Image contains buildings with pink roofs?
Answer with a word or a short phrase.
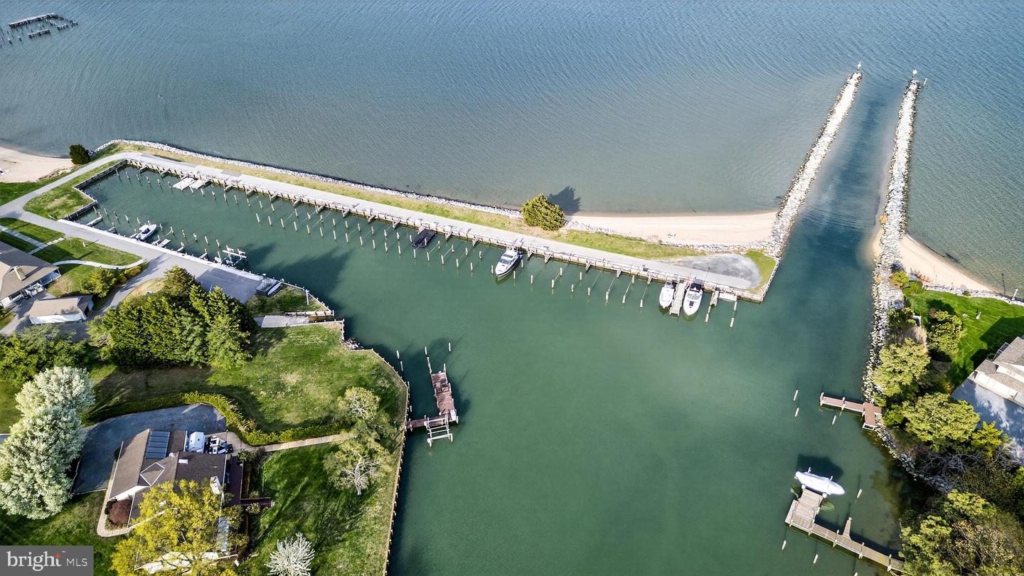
No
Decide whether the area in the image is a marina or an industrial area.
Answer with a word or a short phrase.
marina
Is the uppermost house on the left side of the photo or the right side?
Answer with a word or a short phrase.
left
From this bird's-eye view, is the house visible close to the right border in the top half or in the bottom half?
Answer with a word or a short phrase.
bottom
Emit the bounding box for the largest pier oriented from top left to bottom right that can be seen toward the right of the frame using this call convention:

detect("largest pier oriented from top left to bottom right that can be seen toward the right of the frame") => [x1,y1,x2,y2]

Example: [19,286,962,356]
[785,484,902,575]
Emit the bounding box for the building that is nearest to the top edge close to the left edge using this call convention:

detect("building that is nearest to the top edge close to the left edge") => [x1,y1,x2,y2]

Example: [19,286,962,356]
[0,251,60,305]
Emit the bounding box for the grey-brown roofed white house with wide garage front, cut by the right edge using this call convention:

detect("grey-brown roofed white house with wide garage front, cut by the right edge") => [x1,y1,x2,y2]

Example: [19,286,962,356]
[964,337,1024,418]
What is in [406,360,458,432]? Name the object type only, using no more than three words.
pier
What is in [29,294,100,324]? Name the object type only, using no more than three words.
building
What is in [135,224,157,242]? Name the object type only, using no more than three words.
boat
